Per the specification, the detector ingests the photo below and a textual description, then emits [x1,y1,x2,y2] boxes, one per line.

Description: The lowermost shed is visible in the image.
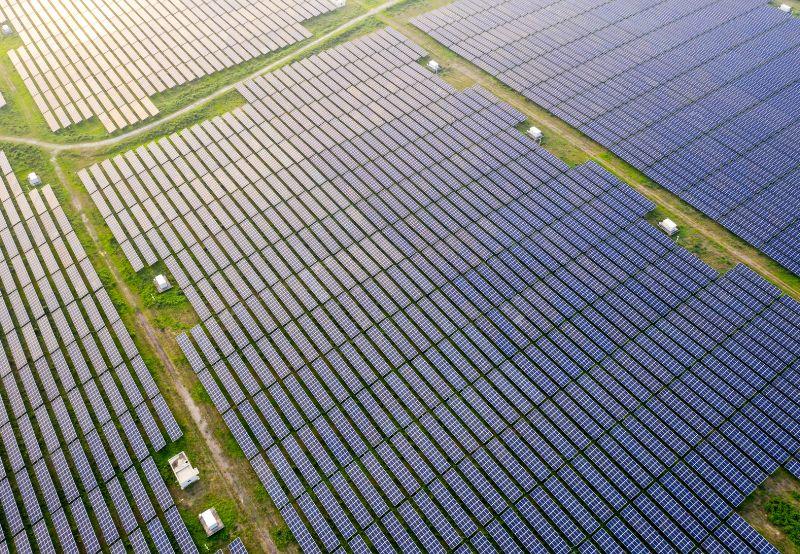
[195,506,225,538]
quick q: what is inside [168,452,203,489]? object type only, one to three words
building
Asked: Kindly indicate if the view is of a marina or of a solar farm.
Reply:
solar farm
